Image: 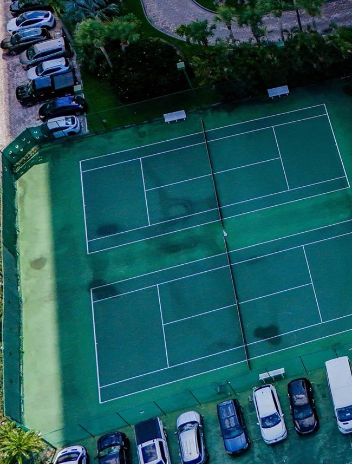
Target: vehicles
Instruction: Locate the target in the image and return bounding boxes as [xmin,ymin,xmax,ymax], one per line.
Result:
[325,353,352,431]
[51,448,89,464]
[26,55,76,85]
[39,98,90,123]
[287,376,320,438]
[252,384,287,447]
[133,417,169,464]
[173,411,208,464]
[50,116,87,139]
[216,395,250,461]
[9,14,56,36]
[16,75,79,108]
[19,37,73,68]
[3,28,52,56]
[96,436,131,464]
